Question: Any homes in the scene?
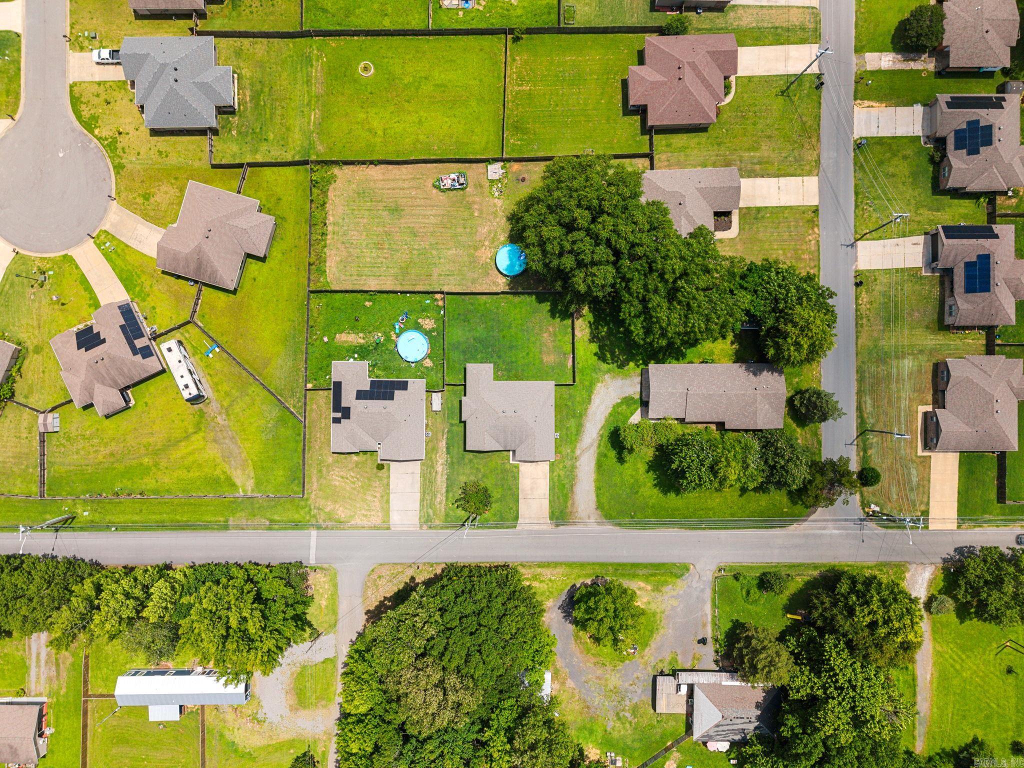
Yes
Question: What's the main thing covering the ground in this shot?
grass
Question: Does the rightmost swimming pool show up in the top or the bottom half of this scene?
top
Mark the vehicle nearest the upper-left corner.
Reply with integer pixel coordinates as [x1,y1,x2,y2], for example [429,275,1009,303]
[88,47,120,62]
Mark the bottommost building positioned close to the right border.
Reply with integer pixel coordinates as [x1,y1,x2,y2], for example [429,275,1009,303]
[925,355,1024,451]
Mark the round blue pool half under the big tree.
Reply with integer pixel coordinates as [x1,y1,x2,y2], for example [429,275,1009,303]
[495,242,527,275]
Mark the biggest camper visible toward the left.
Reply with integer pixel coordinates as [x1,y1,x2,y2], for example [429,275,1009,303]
[162,339,206,402]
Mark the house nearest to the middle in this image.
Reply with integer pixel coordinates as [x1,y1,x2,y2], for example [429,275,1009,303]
[462,363,555,462]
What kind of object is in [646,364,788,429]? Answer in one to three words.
house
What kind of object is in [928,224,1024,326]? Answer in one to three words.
house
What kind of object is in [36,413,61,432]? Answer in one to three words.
shed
